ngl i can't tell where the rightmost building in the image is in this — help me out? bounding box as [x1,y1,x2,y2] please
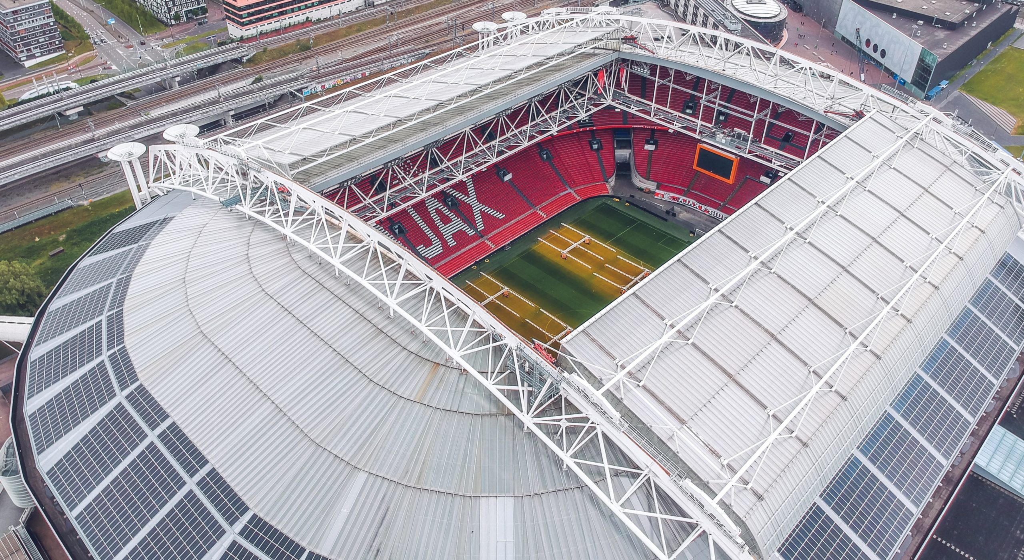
[833,0,1024,98]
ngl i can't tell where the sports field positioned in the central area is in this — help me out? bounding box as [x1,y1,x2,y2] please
[466,204,688,354]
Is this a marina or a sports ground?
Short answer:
sports ground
